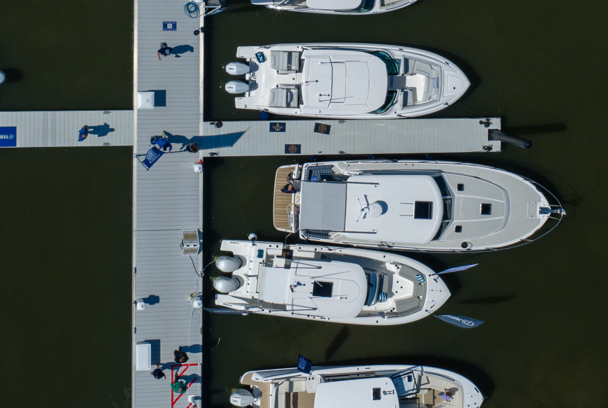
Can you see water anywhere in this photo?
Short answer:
Yes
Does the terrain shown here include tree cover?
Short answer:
No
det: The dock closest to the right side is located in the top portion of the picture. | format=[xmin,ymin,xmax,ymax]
[204,117,501,157]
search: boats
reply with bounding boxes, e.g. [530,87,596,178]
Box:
[0,70,7,85]
[229,360,487,408]
[250,0,415,15]
[212,238,451,326]
[224,42,471,120]
[273,159,567,253]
